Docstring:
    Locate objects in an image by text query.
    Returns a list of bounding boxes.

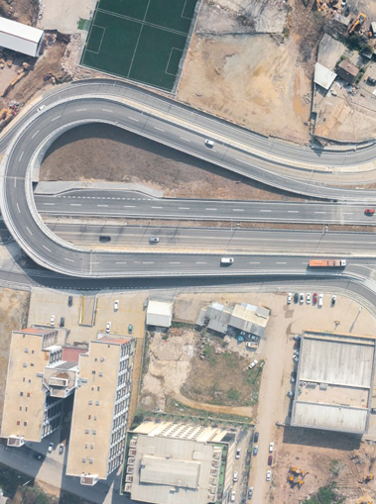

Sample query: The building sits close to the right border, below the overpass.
[290,330,376,434]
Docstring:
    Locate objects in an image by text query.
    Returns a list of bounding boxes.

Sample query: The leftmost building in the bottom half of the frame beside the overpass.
[0,327,77,448]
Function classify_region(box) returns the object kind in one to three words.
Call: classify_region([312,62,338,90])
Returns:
shed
